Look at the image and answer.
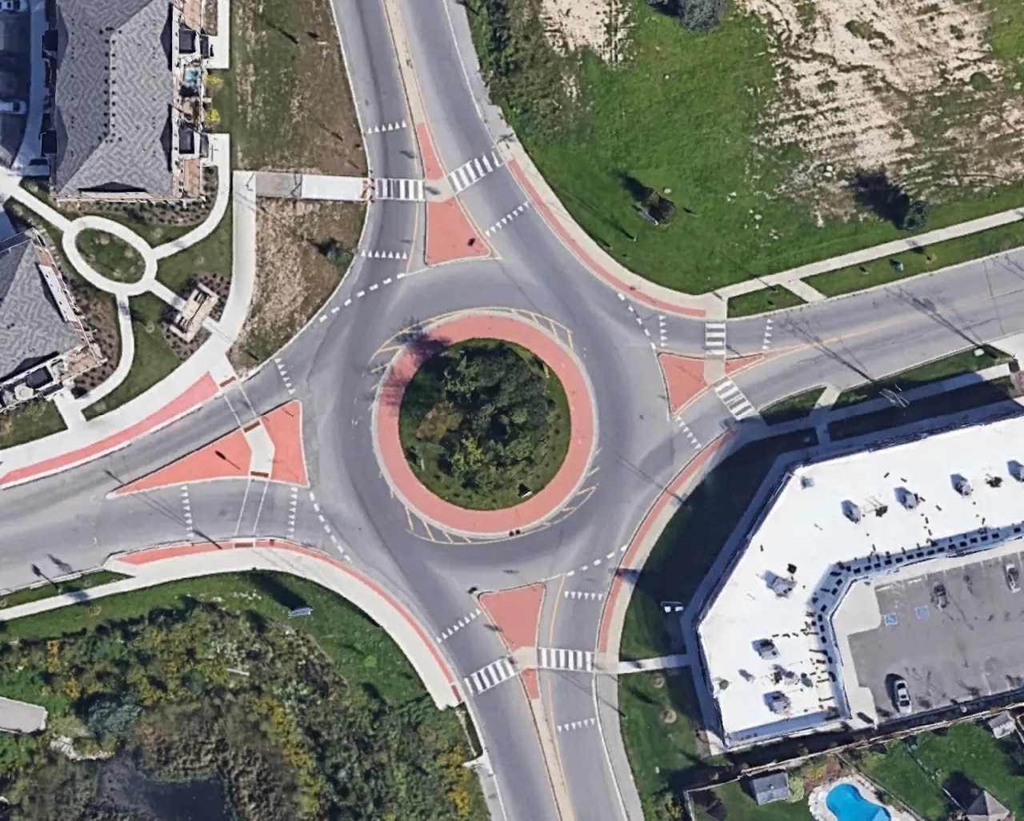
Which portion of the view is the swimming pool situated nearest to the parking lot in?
bottom right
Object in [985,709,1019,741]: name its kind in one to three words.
shed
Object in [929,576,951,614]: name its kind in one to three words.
car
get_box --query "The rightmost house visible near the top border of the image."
[44,0,223,207]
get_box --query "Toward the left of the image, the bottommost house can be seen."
[0,235,111,415]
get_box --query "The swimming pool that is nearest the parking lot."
[810,774,907,821]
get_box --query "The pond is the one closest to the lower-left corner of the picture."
[130,775,234,821]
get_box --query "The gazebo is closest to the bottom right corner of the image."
[961,787,1011,821]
